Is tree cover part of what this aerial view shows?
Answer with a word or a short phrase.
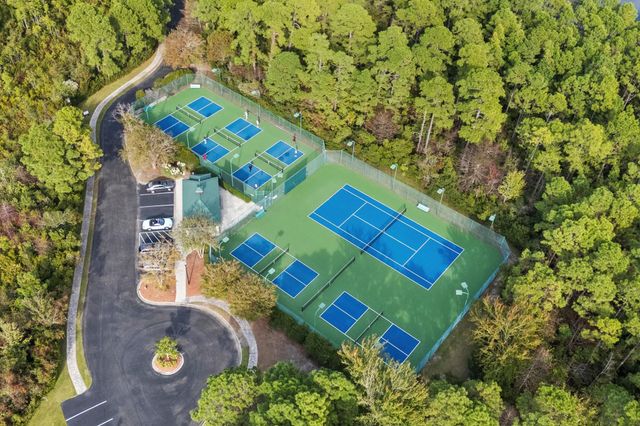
Yes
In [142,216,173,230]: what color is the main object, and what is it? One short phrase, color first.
white vehicle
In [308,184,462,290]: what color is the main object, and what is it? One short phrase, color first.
blue tennis court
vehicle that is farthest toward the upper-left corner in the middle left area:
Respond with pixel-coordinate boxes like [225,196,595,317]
[146,179,175,191]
